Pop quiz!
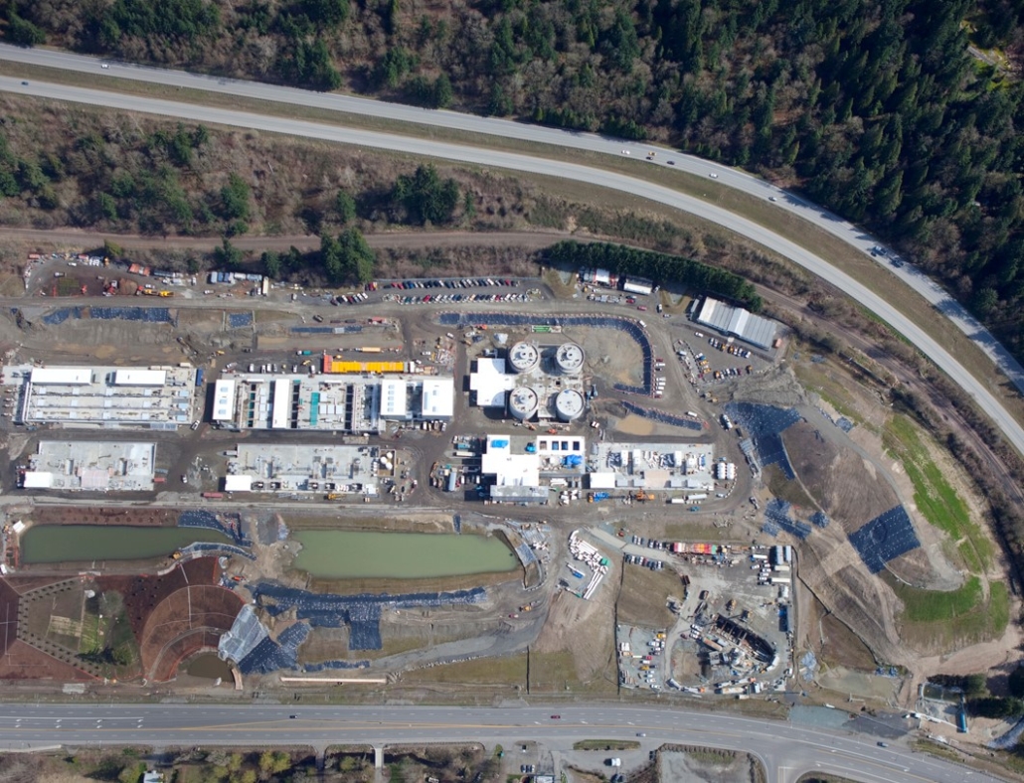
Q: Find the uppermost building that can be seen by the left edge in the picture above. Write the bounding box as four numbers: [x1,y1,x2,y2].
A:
[22,367,199,430]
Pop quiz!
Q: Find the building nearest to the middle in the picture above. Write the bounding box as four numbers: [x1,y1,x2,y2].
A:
[470,358,514,407]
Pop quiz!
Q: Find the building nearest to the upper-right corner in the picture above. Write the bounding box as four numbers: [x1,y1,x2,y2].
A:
[696,297,776,352]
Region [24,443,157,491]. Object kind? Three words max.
building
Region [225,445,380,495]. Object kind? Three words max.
building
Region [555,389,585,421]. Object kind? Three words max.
storage tank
